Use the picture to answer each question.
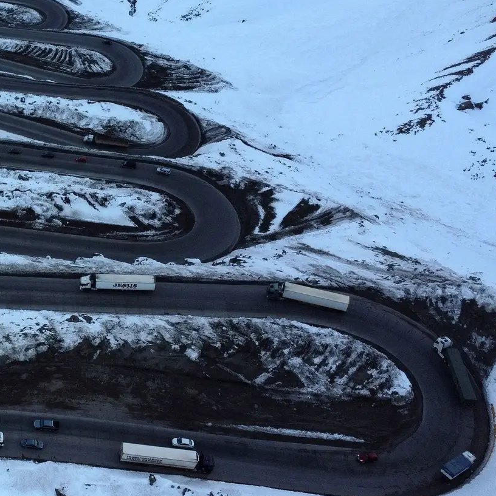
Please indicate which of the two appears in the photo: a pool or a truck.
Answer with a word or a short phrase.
truck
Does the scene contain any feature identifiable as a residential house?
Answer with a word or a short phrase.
No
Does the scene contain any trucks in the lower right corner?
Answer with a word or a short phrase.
Yes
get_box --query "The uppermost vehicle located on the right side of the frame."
[263,286,353,311]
